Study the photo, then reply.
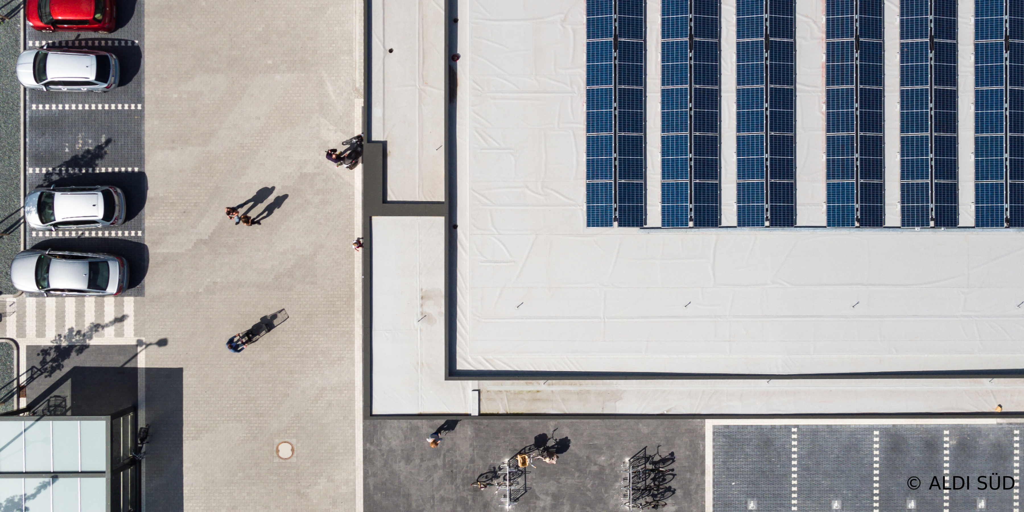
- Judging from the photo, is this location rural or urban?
urban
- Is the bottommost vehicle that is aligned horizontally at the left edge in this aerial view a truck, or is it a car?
car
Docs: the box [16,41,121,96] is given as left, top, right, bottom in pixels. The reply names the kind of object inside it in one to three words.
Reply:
car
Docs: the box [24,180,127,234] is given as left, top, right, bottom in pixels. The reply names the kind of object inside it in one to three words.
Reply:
car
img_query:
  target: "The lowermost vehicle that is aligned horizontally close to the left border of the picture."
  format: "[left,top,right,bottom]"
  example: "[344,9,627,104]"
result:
[9,245,131,302]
